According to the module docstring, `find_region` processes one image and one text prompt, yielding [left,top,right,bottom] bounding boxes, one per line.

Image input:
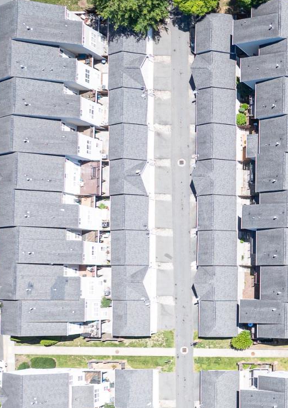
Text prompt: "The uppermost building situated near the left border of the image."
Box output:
[0,0,106,55]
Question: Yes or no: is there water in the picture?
No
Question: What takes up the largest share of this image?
buildings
